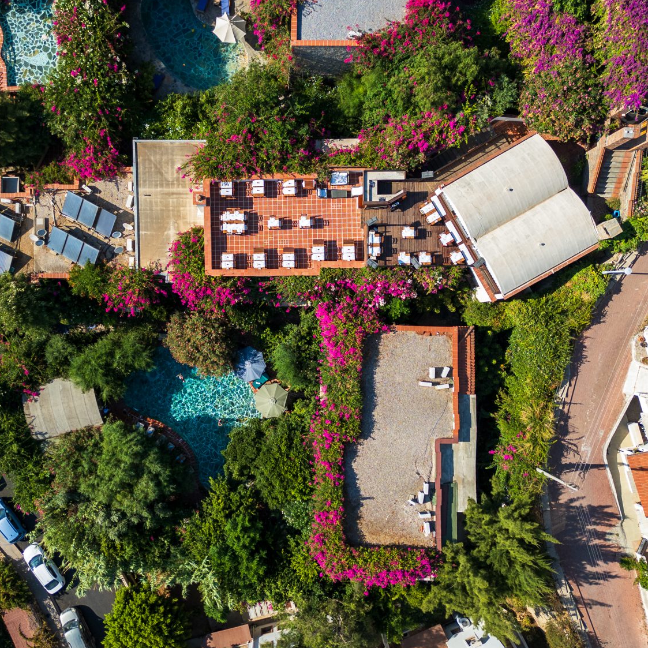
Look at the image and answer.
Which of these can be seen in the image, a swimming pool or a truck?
swimming pool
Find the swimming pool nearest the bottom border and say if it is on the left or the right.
left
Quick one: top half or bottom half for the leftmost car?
bottom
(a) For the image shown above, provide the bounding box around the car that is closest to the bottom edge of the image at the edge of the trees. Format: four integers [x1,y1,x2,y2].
[60,602,98,648]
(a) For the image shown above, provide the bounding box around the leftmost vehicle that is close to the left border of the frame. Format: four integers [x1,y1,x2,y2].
[0,493,27,546]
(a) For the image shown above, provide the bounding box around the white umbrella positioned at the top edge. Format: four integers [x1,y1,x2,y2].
[213,14,248,50]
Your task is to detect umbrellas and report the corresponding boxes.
[235,347,268,380]
[254,381,289,417]
[213,14,248,50]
